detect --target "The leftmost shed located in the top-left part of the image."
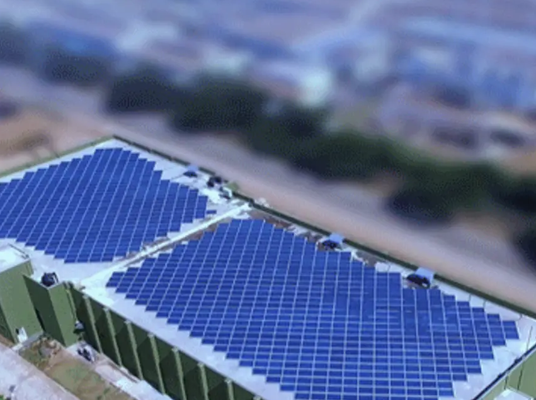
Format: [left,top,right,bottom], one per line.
[35,19,131,60]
